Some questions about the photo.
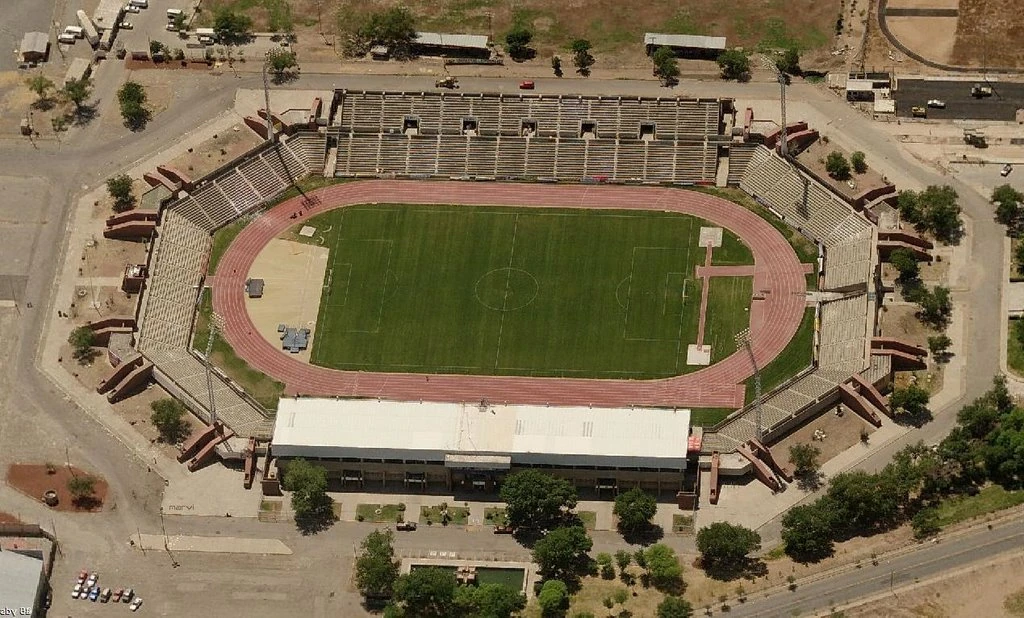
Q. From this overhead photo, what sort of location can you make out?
sports ground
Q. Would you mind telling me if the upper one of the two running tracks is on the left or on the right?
right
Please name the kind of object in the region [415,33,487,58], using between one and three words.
shed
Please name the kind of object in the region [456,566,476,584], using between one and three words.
fountain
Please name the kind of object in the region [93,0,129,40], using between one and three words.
building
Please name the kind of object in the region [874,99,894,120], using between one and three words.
building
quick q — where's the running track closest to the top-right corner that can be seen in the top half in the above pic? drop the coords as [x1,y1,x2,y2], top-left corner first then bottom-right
[877,0,1024,73]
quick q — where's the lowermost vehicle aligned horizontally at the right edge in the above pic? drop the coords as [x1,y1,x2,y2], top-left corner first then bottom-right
[963,132,988,144]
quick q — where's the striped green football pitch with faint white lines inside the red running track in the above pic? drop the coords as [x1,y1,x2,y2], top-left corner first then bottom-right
[309,205,698,377]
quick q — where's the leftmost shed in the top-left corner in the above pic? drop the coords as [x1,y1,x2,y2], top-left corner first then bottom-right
[21,32,49,62]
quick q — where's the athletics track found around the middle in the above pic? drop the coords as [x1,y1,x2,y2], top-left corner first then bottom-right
[204,180,815,407]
